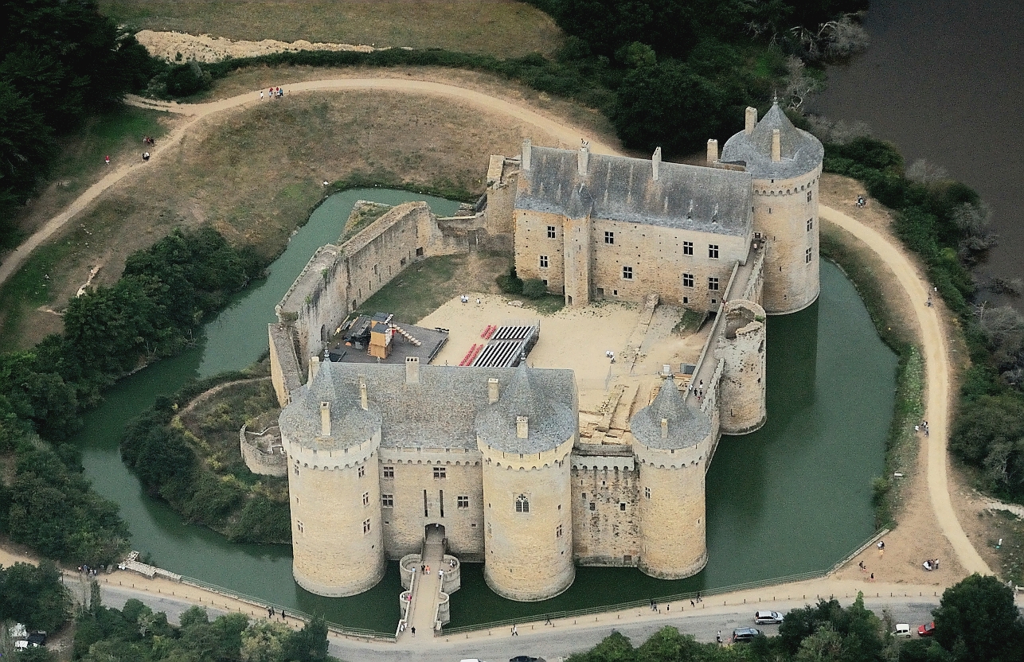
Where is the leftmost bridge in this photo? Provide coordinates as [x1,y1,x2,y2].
[394,538,463,653]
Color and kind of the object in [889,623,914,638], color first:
white car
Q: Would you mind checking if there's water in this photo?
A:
Yes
